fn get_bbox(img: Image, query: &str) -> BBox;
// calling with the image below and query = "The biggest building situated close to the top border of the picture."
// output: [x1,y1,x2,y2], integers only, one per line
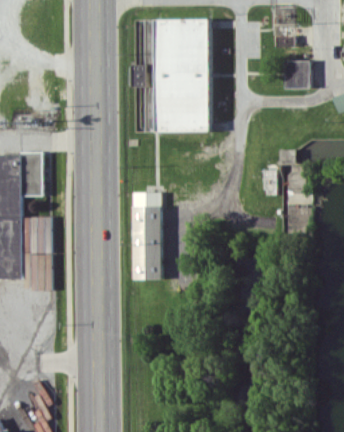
[156,18,210,134]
